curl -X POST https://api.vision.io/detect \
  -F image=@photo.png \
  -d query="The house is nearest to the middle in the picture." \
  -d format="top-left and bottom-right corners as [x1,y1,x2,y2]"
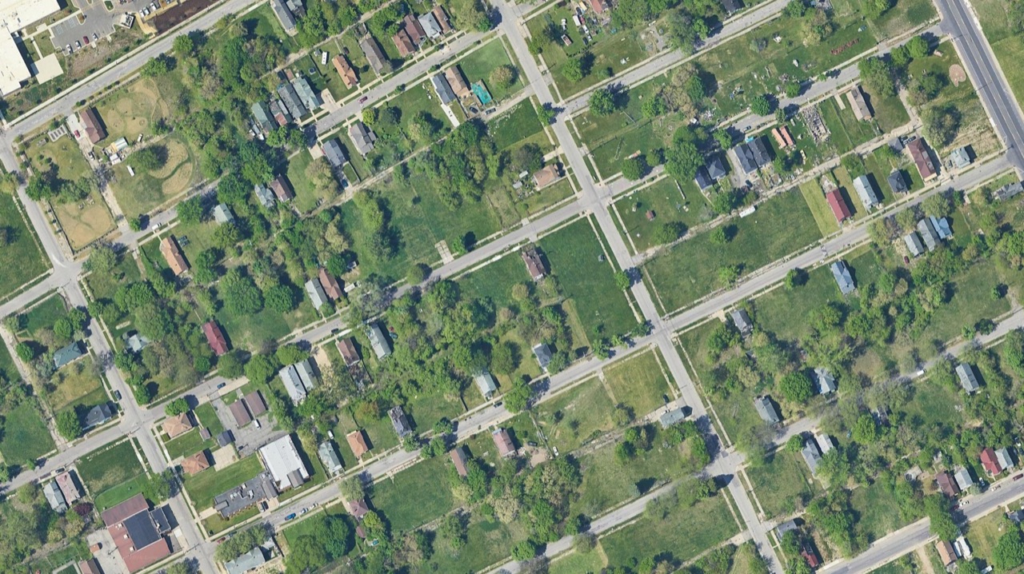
[520,244,546,283]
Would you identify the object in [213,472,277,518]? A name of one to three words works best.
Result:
building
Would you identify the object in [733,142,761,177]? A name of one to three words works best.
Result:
house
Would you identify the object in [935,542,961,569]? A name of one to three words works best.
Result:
house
